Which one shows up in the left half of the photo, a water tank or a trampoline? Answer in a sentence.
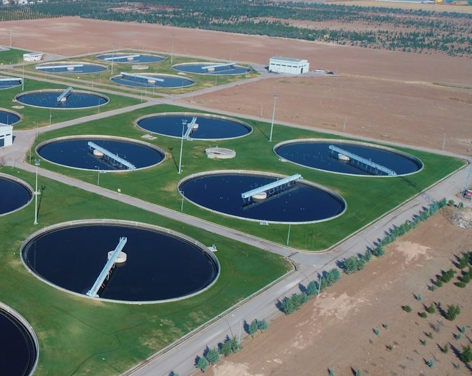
The feature located in the left half of the photo is a water tank.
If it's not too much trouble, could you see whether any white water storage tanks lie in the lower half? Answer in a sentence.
No, looking in the lower half, there is no white water storage tank.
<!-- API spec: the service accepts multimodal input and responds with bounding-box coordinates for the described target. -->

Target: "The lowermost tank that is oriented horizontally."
[21,221,220,308]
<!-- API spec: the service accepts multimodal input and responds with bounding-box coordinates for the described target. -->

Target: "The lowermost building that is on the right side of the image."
[267,56,307,75]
